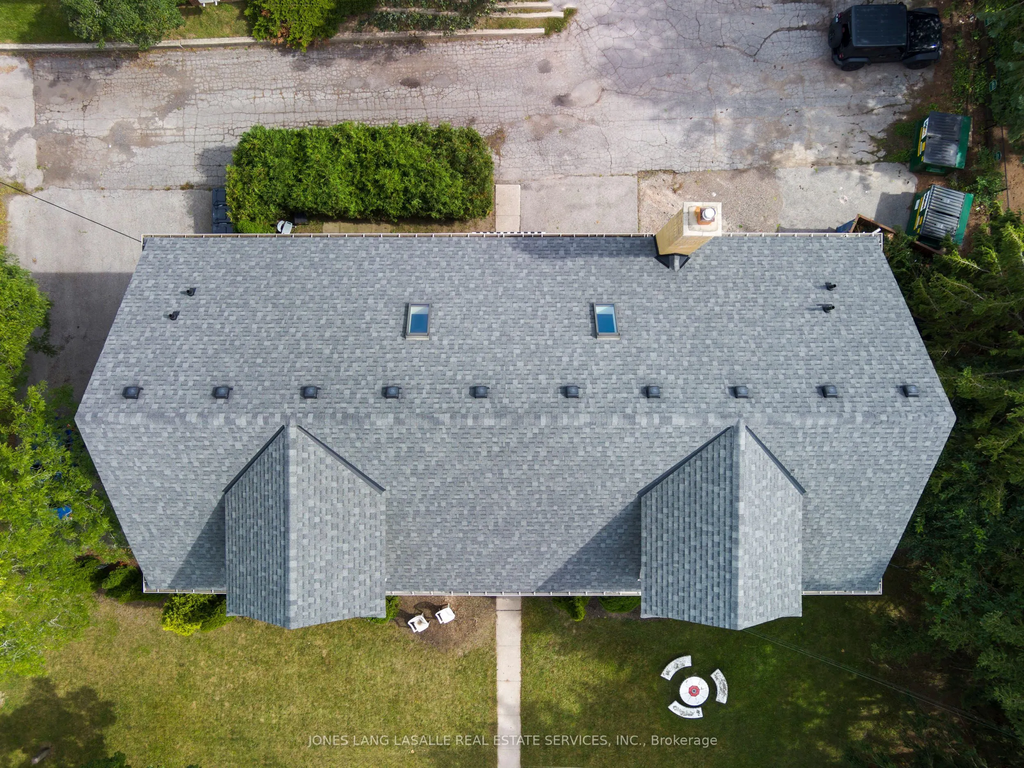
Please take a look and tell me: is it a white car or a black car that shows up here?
black car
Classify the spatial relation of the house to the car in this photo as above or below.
below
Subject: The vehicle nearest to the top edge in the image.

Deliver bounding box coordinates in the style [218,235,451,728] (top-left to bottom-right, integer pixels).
[830,4,941,73]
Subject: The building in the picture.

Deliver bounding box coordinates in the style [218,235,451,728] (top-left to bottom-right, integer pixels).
[73,202,955,630]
